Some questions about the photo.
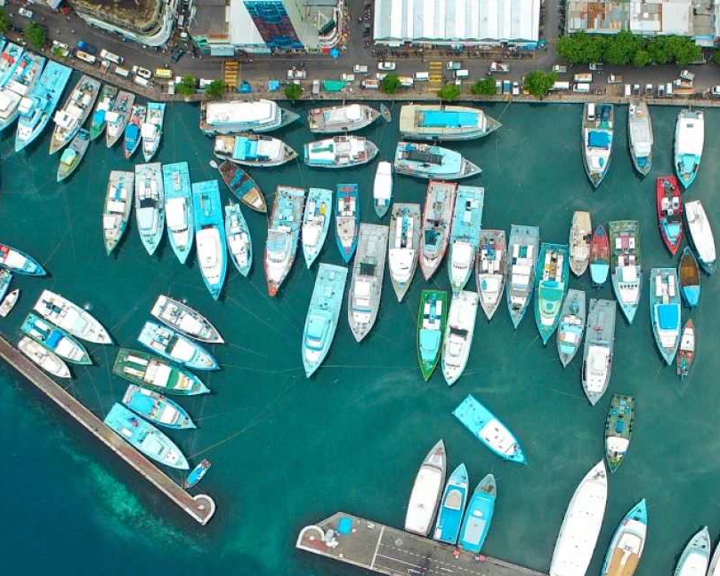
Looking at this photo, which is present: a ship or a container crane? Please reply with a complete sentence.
Visible in the photo is a ship.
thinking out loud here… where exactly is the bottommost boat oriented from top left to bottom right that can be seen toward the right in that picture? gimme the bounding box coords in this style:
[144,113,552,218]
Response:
[453,395,526,465]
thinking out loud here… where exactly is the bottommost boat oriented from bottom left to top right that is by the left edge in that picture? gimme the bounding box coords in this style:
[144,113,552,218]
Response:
[0,290,19,318]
